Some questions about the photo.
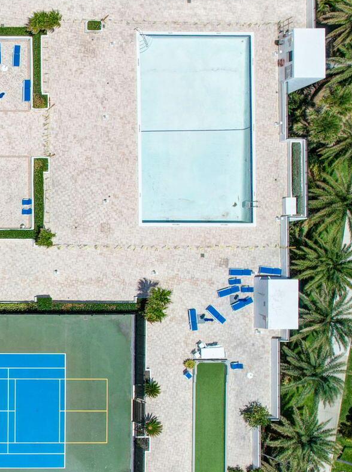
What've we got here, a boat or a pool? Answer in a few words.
pool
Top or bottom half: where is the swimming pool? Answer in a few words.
top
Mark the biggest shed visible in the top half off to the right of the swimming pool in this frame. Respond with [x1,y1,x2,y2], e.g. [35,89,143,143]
[278,28,326,85]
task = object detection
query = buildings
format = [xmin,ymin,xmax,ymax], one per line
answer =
[278,28,326,85]
[275,198,295,214]
[254,279,298,329]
